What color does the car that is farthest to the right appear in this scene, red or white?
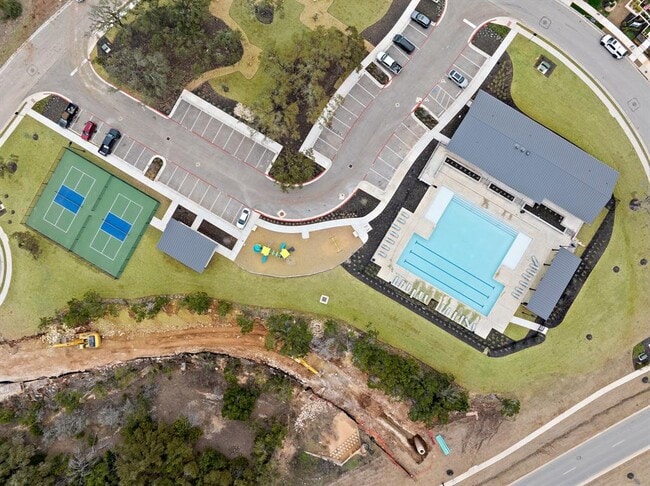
white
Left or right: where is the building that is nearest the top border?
right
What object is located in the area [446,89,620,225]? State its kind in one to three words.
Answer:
building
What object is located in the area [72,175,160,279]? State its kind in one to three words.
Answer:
sports court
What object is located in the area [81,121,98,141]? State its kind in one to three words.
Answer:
car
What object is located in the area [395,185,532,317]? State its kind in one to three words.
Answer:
swimming pool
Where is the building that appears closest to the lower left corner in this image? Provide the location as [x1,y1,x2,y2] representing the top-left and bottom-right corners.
[156,217,217,273]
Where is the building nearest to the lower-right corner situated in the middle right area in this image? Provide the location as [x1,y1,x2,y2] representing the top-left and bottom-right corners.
[526,246,581,320]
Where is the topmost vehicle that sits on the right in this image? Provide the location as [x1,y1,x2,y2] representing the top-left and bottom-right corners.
[409,11,431,30]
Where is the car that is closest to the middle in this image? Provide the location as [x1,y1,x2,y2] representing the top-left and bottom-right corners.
[236,207,252,230]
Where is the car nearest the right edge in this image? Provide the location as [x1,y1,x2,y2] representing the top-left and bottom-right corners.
[600,37,627,58]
